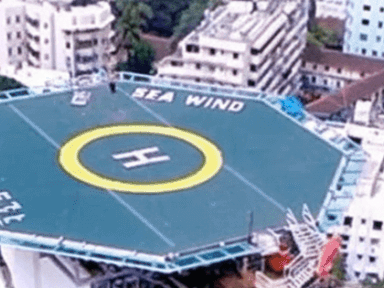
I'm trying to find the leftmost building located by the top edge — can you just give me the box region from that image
[0,0,117,85]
